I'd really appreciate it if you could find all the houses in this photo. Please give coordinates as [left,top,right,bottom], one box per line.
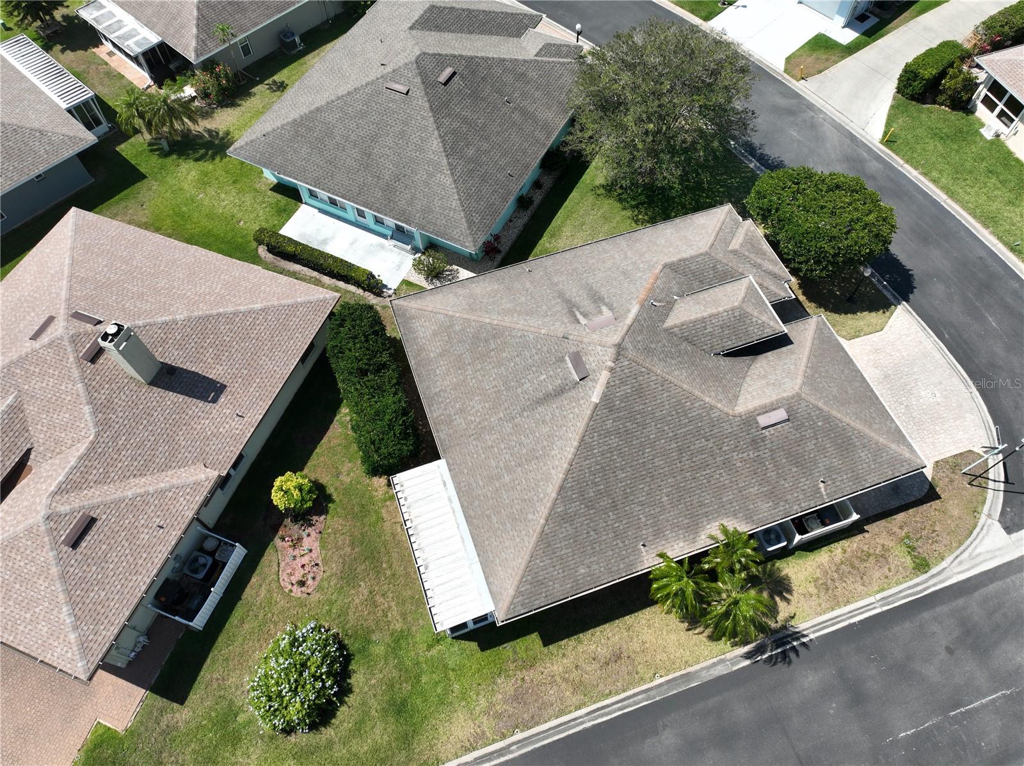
[0,33,112,232]
[228,0,608,261]
[967,41,1024,153]
[0,204,340,686]
[81,0,352,85]
[387,203,928,638]
[799,0,876,27]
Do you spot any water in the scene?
No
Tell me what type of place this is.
residential area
